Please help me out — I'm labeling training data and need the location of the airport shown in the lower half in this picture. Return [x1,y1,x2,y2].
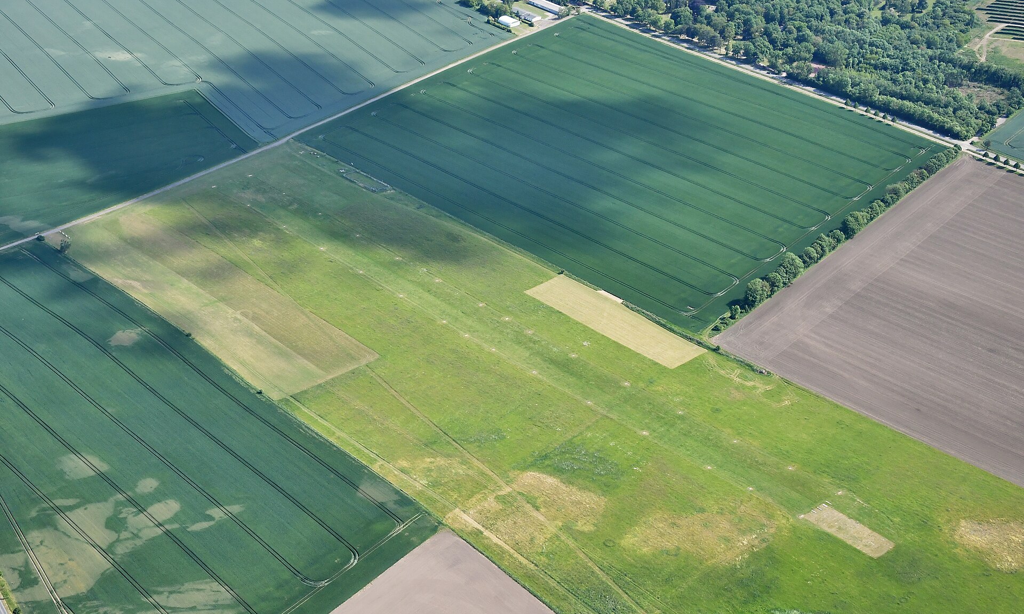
[44,140,1024,614]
